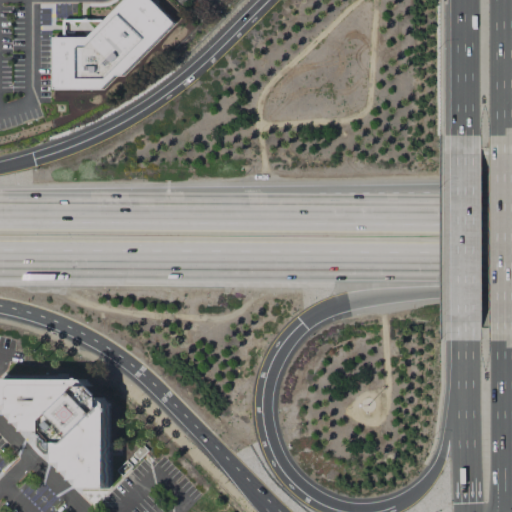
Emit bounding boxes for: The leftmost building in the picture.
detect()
[0,380,110,498]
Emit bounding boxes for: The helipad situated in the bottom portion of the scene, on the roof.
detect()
[43,390,86,436]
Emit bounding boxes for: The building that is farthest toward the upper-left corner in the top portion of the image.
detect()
[52,0,177,91]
